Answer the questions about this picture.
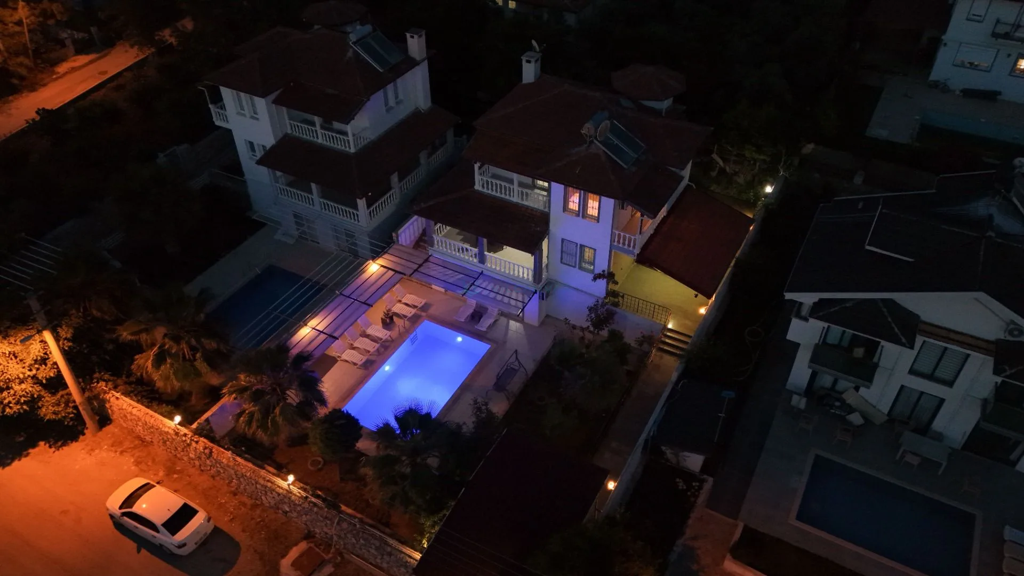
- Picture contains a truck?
No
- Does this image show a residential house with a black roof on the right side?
Yes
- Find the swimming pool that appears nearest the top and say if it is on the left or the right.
right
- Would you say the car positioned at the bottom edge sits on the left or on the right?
left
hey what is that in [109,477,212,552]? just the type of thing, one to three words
car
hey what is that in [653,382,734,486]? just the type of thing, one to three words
shed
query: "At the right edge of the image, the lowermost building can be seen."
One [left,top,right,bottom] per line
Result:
[782,173,1024,468]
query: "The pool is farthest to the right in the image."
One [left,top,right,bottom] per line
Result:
[913,109,1024,166]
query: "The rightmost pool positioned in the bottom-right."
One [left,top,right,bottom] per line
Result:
[796,455,977,576]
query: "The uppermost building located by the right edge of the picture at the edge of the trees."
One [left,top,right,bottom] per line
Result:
[927,0,1024,102]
